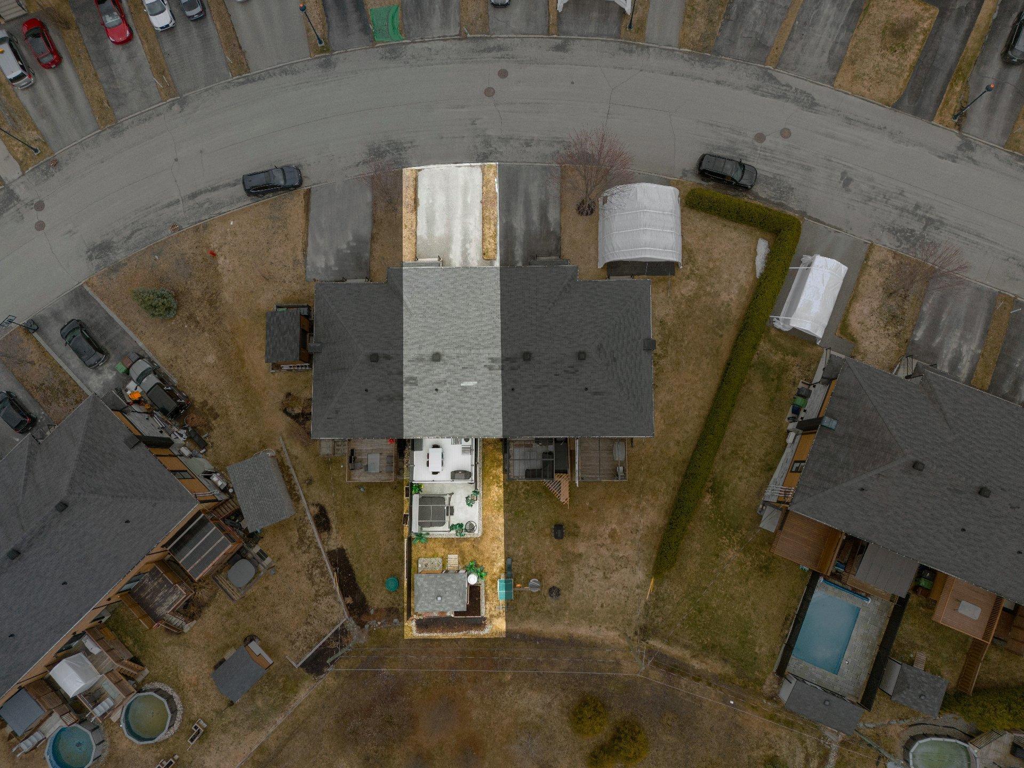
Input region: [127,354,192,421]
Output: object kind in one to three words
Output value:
truck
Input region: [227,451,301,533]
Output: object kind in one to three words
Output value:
shed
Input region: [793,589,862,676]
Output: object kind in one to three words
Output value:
swimming pool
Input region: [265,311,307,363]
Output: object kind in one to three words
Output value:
shed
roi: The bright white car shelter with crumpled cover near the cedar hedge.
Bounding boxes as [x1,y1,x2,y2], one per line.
[780,256,845,340]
